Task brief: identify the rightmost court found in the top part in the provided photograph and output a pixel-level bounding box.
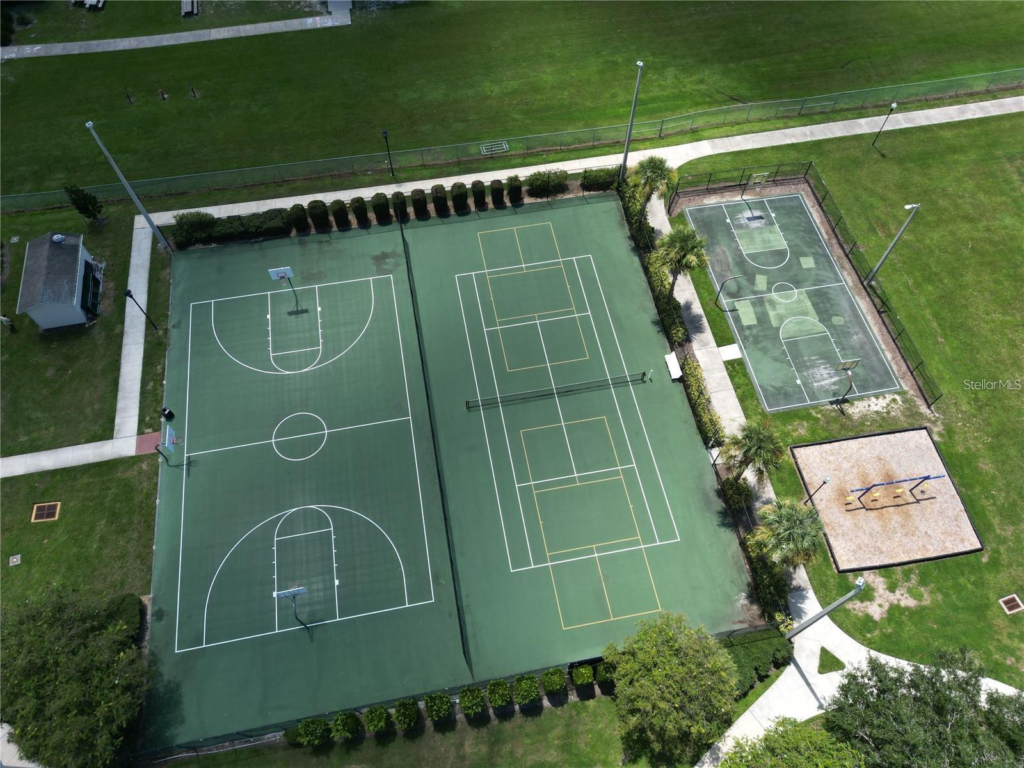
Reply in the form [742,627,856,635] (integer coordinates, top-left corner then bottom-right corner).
[683,191,905,413]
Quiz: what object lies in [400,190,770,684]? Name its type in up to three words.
tennis court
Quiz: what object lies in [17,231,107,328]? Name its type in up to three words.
shed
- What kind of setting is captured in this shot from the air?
sports ground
